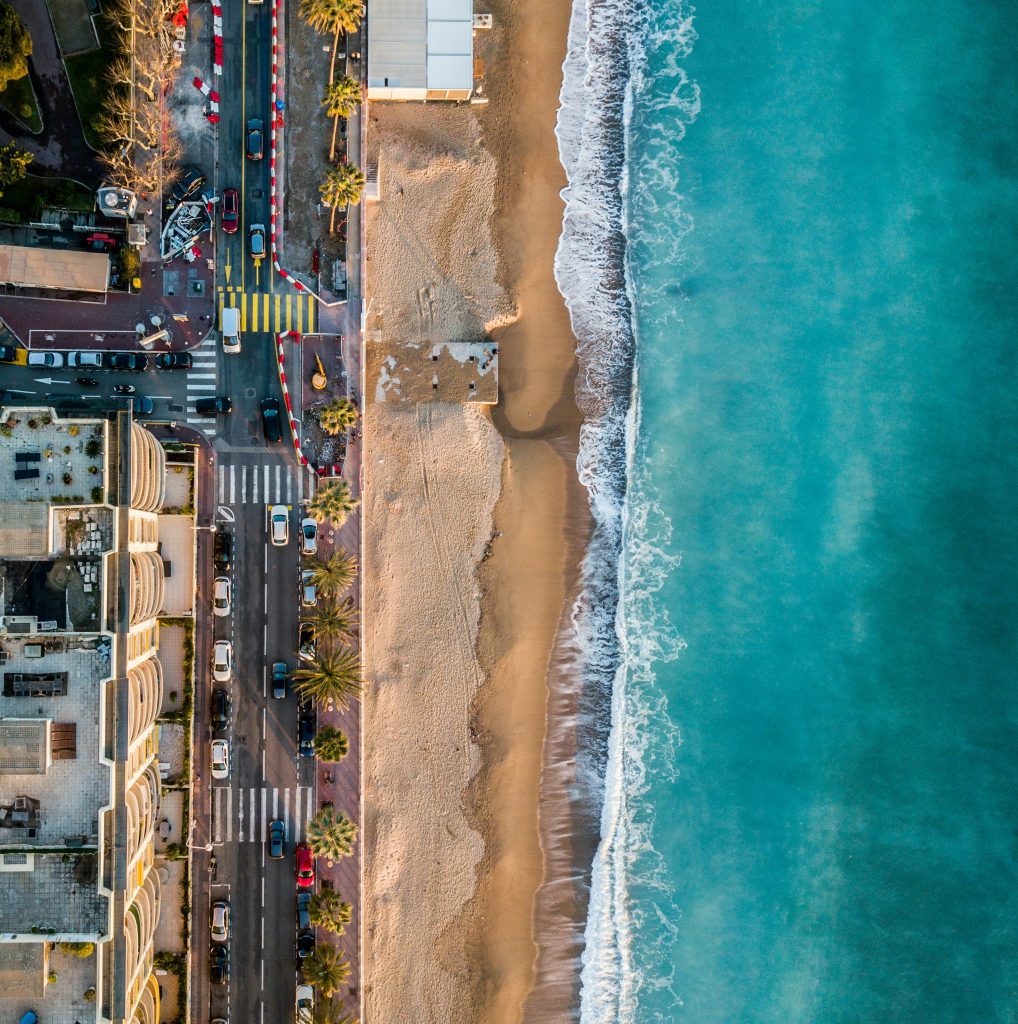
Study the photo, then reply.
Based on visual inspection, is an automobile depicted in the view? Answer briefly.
Yes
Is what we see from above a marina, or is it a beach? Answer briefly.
beach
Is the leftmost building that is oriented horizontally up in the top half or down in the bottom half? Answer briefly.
top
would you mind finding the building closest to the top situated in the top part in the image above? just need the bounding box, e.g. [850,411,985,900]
[368,0,473,105]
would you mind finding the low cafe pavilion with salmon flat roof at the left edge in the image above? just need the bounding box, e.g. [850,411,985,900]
[0,248,113,296]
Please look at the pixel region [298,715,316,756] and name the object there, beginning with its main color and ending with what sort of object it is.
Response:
black car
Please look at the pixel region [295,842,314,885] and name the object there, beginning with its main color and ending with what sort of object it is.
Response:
red car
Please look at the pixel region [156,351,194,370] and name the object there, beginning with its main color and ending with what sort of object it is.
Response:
black car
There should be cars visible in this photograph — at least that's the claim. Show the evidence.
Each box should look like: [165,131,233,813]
[28,351,66,370]
[300,519,319,554]
[156,351,194,370]
[295,891,314,928]
[249,0,265,5]
[123,396,159,415]
[269,661,288,699]
[268,819,285,857]
[209,943,228,983]
[0,389,27,406]
[269,505,289,546]
[298,622,317,659]
[213,532,232,570]
[295,983,314,1024]
[213,576,232,617]
[0,345,21,364]
[195,396,233,414]
[210,899,229,940]
[298,928,314,961]
[220,192,240,232]
[213,639,231,680]
[295,842,314,885]
[300,570,318,605]
[211,690,230,730]
[67,350,105,370]
[298,715,316,756]
[246,123,265,160]
[111,352,150,371]
[249,226,267,258]
[211,738,230,778]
